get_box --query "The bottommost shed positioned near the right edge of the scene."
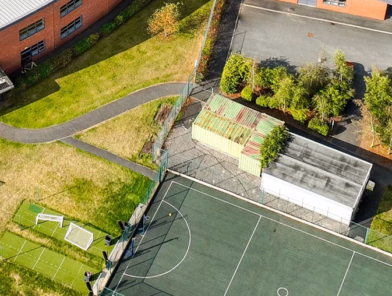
[261,127,377,226]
